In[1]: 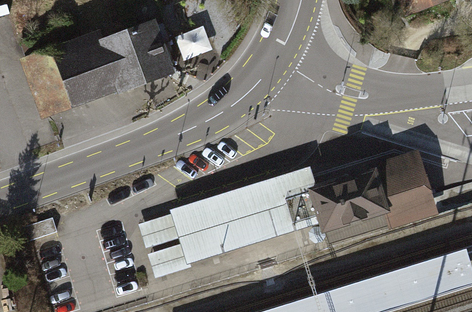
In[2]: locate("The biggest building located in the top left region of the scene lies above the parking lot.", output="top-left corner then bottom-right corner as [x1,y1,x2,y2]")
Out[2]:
[52,17,174,107]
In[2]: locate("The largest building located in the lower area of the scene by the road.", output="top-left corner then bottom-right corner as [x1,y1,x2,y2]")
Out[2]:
[170,167,314,265]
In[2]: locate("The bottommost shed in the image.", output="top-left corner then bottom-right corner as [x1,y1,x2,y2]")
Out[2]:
[148,244,188,278]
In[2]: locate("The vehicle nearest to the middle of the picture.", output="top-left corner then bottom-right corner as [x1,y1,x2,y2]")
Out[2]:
[216,142,238,160]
